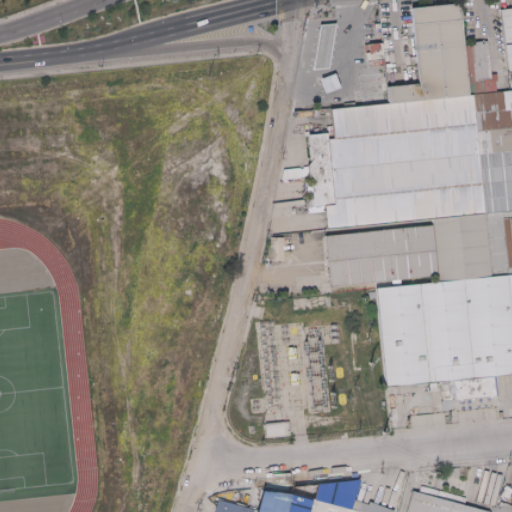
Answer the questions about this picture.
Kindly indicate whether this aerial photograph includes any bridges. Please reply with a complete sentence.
No, I can't see a single bridge in this photo.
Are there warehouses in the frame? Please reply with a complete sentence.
Yes, you can see a warehouse in this photo.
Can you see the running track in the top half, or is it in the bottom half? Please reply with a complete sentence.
The running track sits in the bottom half of the picture.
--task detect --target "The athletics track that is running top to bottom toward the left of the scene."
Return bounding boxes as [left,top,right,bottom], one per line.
[0,216,98,512]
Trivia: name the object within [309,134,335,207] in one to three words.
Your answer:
building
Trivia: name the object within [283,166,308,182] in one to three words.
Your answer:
shed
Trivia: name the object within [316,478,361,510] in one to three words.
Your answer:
building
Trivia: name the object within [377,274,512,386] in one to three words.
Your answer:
warehouse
